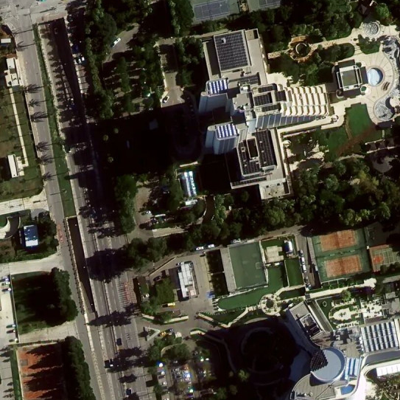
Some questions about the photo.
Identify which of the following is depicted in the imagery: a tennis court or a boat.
tennis court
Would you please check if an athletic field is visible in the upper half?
No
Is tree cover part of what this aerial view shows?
Yes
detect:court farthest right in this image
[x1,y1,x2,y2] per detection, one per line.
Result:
[369,242,400,273]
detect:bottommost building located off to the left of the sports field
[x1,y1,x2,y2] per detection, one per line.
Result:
[178,262,197,300]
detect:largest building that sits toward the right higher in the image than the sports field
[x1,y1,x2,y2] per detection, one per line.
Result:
[197,28,334,203]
